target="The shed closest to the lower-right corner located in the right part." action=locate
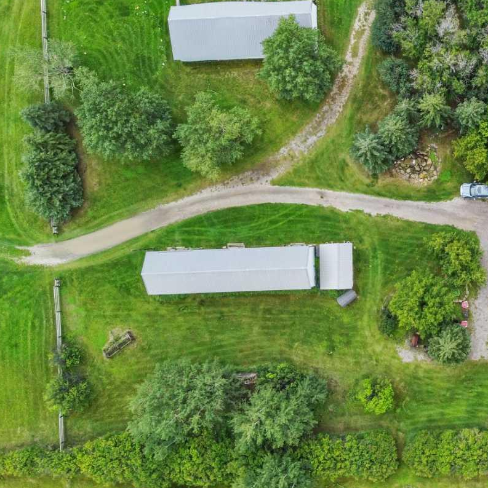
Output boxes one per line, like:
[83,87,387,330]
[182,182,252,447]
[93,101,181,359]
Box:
[319,241,356,290]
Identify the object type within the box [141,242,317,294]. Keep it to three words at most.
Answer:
barn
